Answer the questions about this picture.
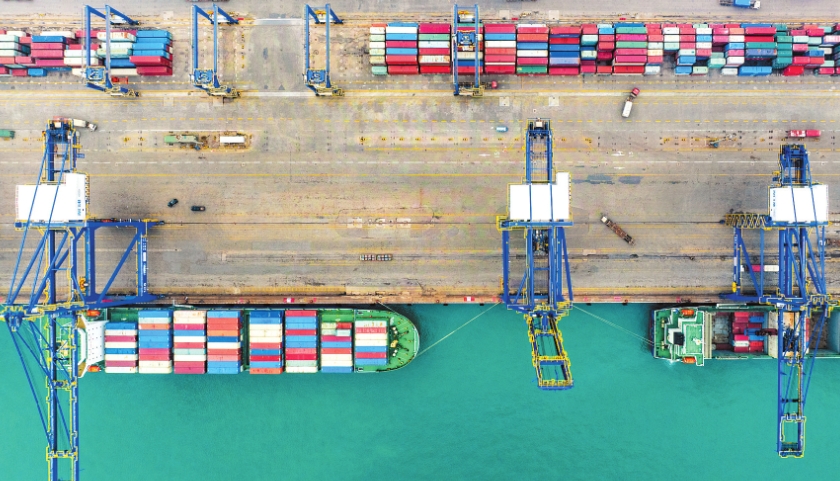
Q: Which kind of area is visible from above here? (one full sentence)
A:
What you see here is a port.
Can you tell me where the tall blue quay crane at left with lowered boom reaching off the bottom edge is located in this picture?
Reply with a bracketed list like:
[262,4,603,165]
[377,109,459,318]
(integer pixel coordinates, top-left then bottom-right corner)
[3,117,166,481]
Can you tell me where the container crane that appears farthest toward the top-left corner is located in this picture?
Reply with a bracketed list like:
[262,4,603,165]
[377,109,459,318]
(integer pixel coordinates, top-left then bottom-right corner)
[80,4,143,100]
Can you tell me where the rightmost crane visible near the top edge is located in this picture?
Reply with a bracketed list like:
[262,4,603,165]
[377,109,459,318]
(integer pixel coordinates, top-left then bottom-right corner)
[450,4,487,100]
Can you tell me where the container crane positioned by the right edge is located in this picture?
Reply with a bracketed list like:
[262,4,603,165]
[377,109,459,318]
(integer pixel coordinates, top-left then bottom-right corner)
[714,139,833,464]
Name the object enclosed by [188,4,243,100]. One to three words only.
container crane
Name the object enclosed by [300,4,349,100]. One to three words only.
container crane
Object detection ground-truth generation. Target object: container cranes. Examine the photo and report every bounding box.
[450,4,487,100]
[493,118,575,392]
[80,4,143,100]
[188,4,243,100]
[3,117,166,481]
[714,139,833,464]
[300,4,349,100]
